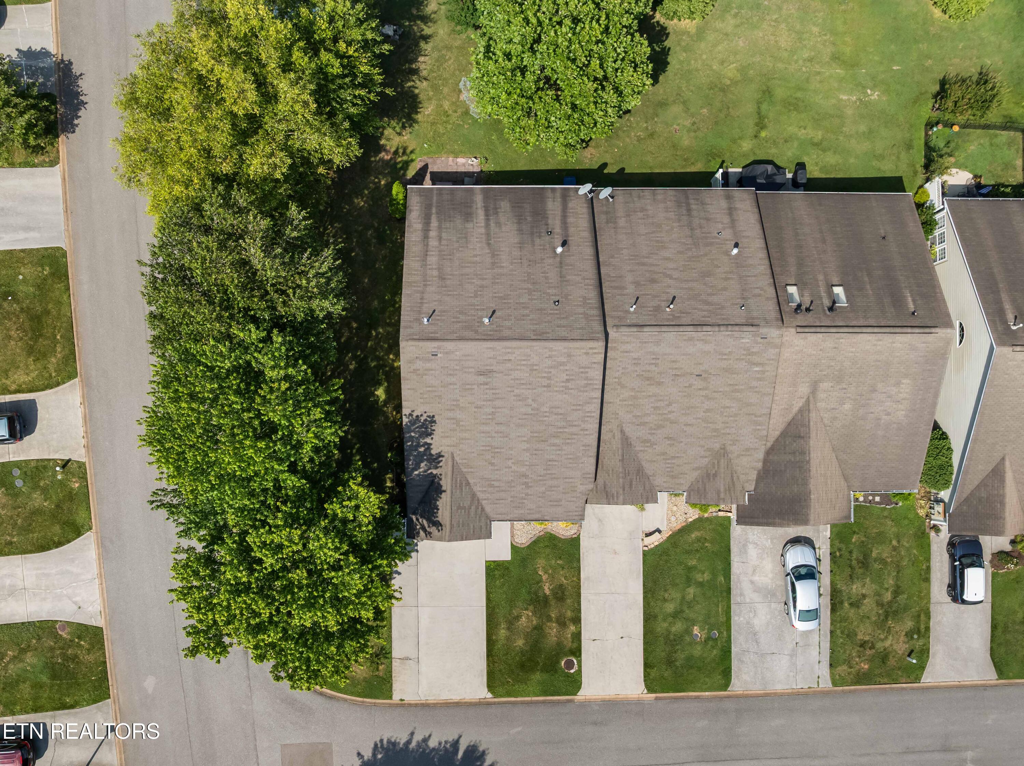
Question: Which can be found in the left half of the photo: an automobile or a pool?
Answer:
automobile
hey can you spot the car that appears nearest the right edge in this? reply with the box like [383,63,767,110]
[941,539,988,609]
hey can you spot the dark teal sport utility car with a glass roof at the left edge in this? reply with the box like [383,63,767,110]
[0,411,25,448]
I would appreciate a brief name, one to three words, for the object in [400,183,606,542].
house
